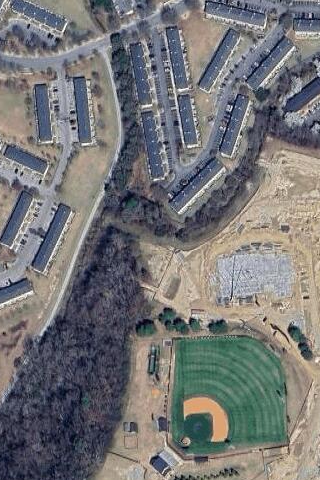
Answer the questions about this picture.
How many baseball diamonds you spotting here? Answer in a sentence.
The count comes to 1 baseball diamond.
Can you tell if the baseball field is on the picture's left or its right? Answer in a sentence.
The baseball field is on the right side of the image.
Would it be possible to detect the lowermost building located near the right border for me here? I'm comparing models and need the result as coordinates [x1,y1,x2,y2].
[285,77,320,115]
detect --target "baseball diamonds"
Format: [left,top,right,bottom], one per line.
[169,334,291,460]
